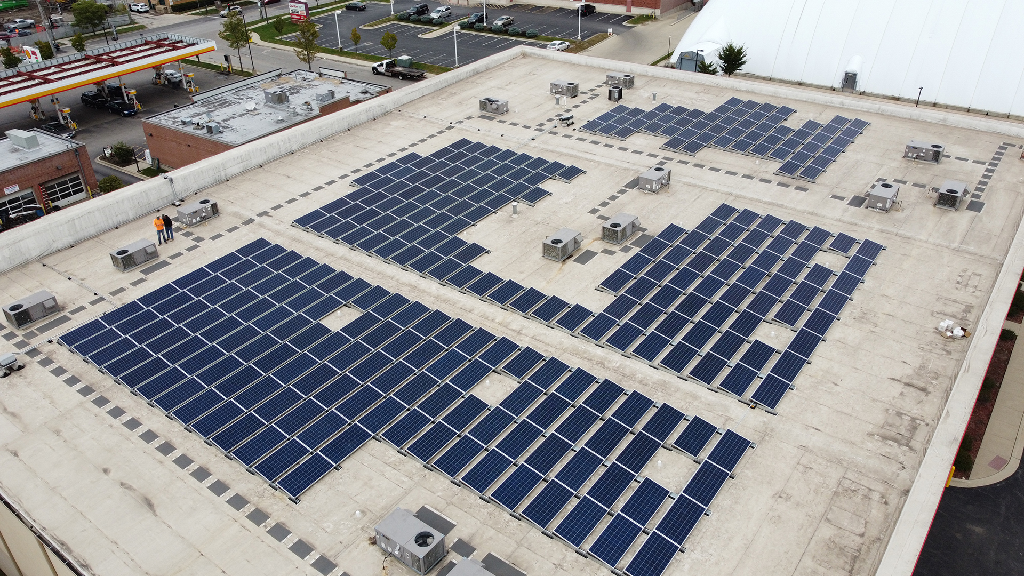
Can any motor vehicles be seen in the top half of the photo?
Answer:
Yes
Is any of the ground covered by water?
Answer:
No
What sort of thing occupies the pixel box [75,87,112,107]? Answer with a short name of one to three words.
car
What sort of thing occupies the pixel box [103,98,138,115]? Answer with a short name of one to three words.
car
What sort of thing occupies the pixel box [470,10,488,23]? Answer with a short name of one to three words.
vehicle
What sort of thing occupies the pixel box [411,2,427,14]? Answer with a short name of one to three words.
vehicle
